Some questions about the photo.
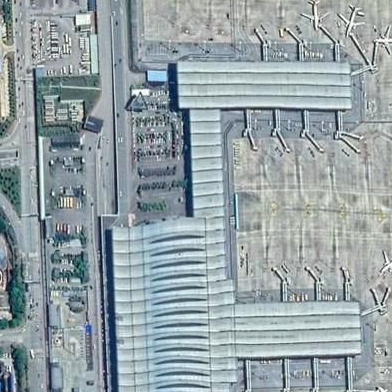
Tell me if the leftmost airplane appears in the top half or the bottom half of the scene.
top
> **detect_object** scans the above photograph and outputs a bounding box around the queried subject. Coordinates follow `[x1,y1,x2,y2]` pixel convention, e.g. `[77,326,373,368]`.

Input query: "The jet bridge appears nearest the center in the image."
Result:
[245,109,257,150]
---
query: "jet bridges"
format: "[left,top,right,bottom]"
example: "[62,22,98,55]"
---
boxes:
[245,109,257,150]
[360,287,390,317]
[245,359,250,392]
[347,357,378,392]
[301,110,324,153]
[283,359,289,392]
[270,266,286,303]
[340,266,349,302]
[318,23,339,60]
[254,27,267,60]
[284,26,303,60]
[312,358,318,392]
[335,110,365,154]
[304,266,321,302]
[274,110,290,153]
